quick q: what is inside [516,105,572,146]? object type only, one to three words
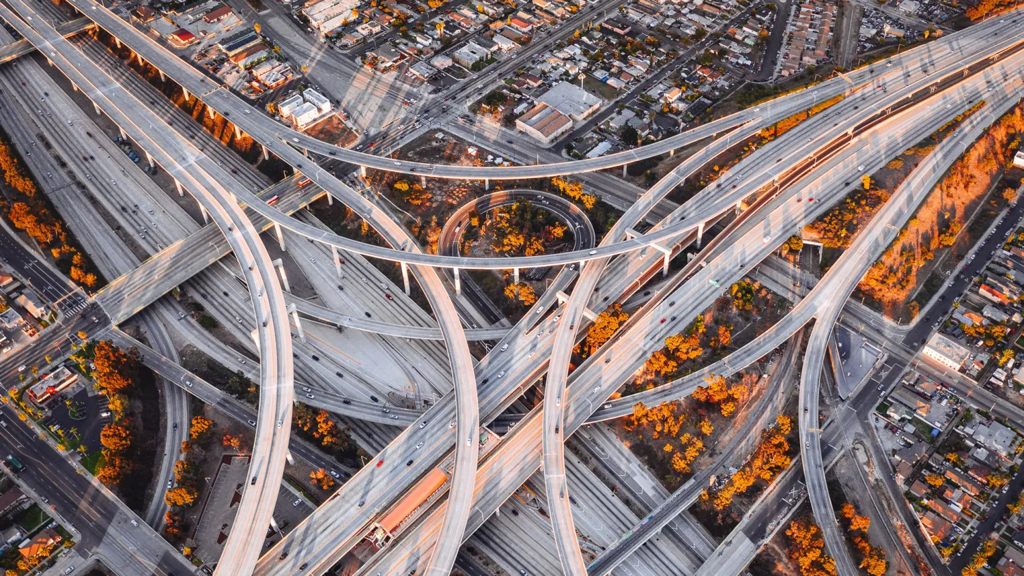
building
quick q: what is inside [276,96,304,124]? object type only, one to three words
building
